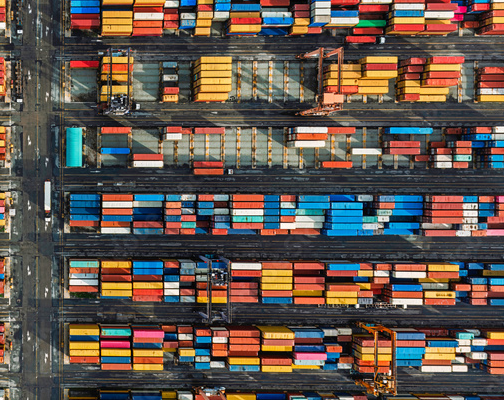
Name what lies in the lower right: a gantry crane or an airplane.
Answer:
gantry crane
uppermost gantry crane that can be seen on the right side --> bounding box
[297,47,344,119]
